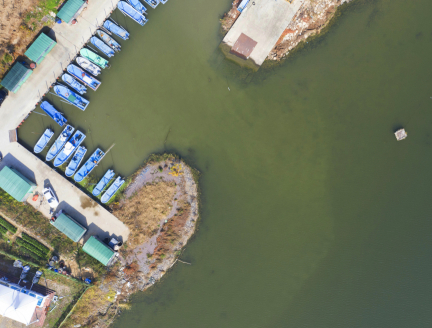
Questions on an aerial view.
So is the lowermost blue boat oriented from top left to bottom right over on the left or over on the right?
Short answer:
left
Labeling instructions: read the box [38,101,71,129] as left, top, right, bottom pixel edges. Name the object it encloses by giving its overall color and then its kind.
blue boat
